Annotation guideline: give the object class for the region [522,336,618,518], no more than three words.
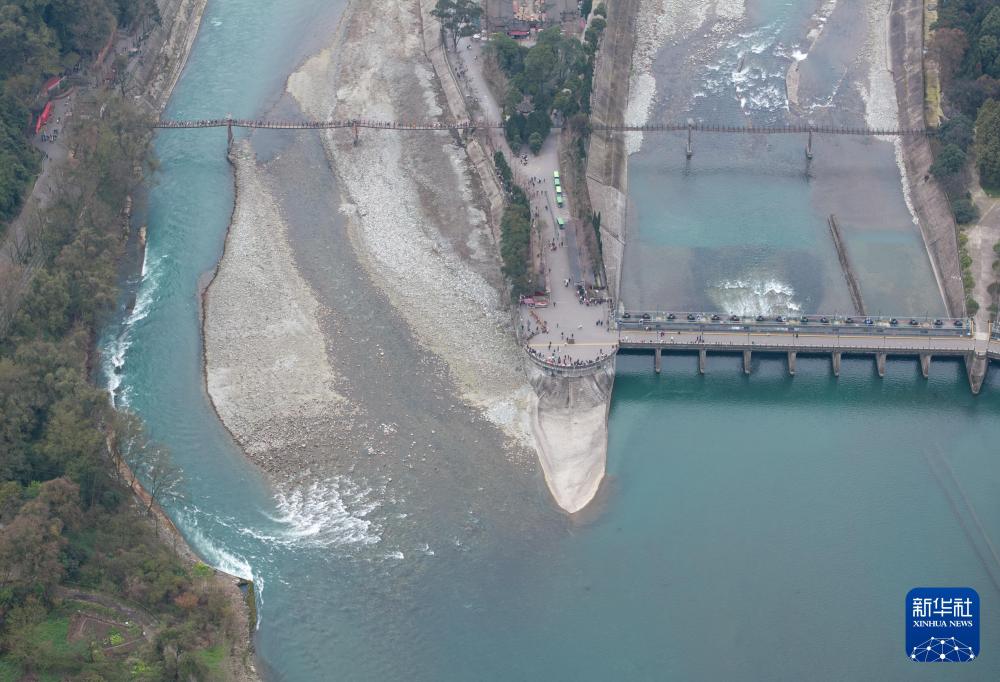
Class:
pier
